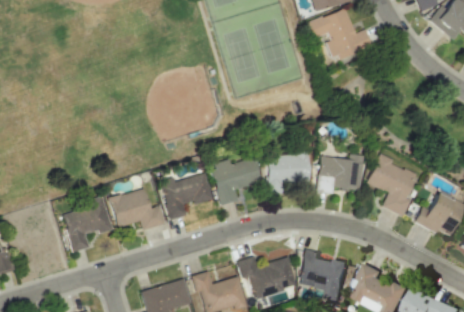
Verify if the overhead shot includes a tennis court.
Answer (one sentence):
Yes, I can see a tennis court in this picture.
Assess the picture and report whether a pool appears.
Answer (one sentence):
Yes, there's a pool here.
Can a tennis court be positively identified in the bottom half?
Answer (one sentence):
No, there is no tennis court in the bottom half.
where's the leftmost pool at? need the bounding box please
[112,175,142,195]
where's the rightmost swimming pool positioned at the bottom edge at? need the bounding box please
[299,284,326,298]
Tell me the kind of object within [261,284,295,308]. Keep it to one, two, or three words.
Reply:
swimming pool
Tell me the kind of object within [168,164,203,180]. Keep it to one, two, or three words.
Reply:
swimming pool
